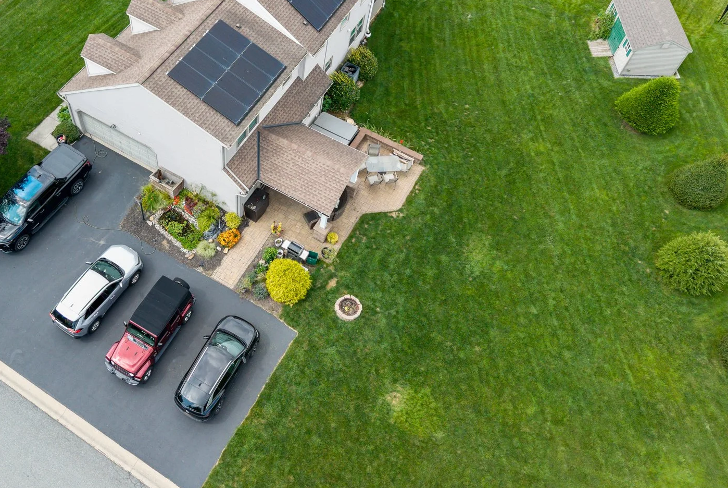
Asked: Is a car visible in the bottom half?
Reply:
Yes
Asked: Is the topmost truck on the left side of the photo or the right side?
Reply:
left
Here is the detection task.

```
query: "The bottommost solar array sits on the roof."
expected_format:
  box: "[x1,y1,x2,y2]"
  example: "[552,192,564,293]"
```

[168,19,285,123]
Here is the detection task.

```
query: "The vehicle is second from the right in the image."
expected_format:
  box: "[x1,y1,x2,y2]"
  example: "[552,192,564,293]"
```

[102,279,194,386]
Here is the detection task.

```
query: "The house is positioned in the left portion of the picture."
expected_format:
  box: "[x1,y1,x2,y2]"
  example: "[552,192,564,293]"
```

[54,0,387,214]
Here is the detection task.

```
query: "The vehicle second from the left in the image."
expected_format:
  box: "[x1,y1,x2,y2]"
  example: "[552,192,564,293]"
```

[50,243,143,340]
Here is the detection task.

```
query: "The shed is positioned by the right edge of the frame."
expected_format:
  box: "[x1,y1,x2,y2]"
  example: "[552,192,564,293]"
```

[596,0,693,79]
